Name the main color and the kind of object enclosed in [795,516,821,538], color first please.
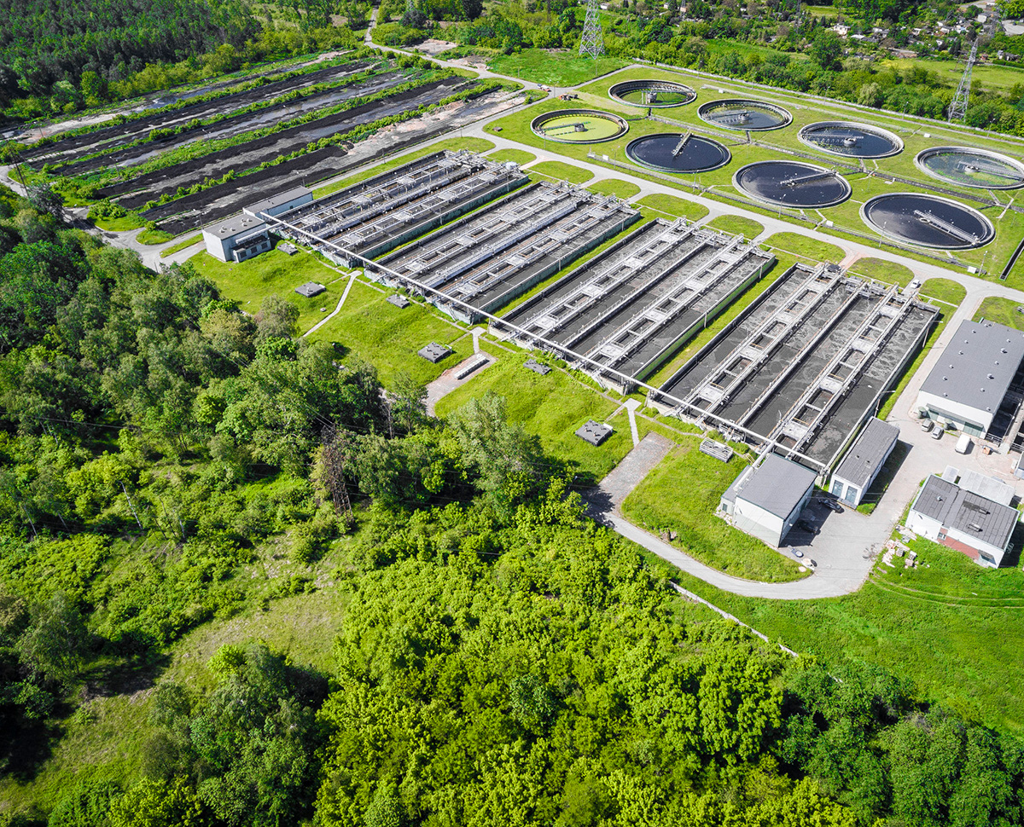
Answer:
black car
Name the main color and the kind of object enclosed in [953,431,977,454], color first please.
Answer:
white vehicle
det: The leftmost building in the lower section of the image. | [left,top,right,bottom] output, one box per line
[718,453,820,546]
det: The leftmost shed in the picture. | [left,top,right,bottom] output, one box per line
[201,214,269,260]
